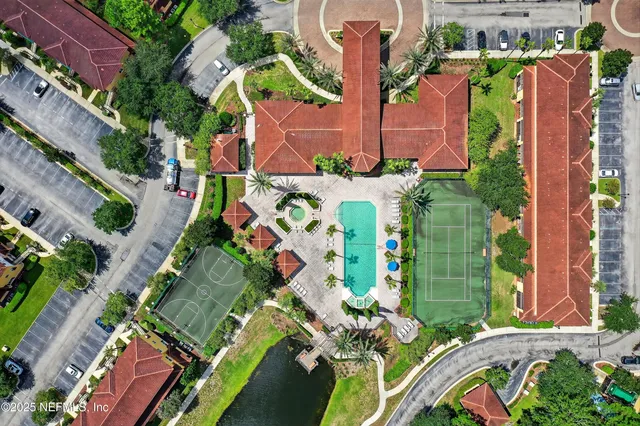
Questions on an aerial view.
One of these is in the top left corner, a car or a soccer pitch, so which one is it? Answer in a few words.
car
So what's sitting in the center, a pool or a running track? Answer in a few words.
pool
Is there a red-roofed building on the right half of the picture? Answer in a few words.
Yes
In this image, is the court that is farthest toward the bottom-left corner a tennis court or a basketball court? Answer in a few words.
basketball court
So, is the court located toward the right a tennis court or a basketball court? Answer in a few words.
tennis court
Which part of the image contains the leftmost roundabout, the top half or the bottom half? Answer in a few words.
top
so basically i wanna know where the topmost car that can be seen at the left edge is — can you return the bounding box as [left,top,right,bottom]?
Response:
[32,79,49,98]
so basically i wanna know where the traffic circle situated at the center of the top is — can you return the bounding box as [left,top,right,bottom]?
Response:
[294,0,428,77]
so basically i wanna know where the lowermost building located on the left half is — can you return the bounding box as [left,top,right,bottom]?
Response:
[62,329,188,426]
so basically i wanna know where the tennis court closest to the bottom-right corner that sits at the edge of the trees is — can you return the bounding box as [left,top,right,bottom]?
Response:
[416,181,488,328]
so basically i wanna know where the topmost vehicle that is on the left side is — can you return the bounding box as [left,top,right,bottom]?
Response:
[212,58,229,76]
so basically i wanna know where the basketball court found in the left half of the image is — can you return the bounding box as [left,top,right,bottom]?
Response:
[150,239,250,347]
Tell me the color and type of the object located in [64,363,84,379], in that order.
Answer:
white car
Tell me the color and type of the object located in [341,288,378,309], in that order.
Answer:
white fountain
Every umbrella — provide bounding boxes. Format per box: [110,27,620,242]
[387,260,399,272]
[386,239,398,250]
